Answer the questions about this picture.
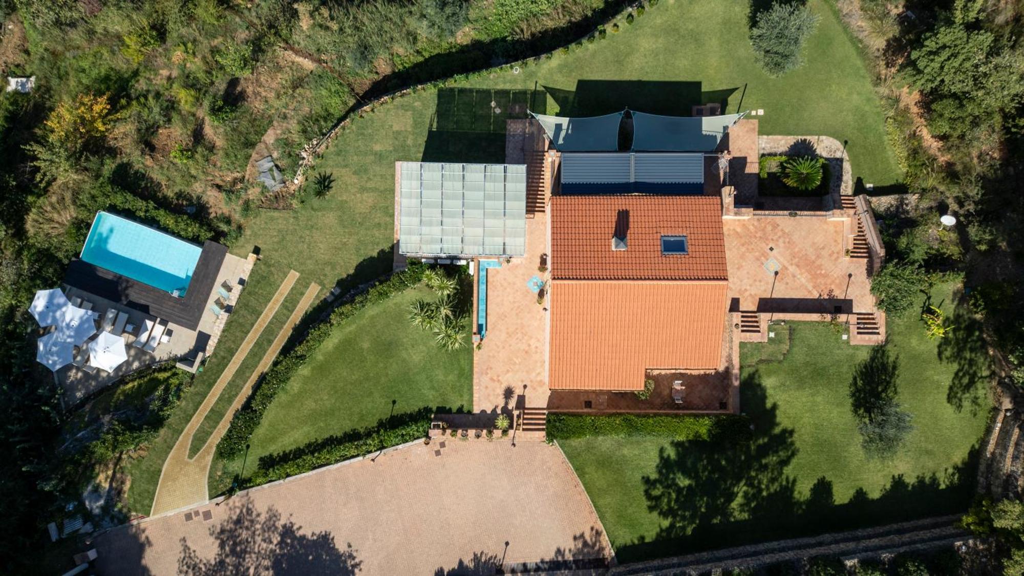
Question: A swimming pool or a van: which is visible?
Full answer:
This aerial view contains a swimming pool.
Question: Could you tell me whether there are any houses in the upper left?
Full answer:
No, no house is visible in the upper left.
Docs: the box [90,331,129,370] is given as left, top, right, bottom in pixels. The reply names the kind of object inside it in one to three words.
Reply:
umbrella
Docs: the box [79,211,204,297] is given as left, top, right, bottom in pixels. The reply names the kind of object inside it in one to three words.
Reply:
swimming pool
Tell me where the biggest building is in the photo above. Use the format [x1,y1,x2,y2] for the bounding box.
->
[543,193,728,391]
